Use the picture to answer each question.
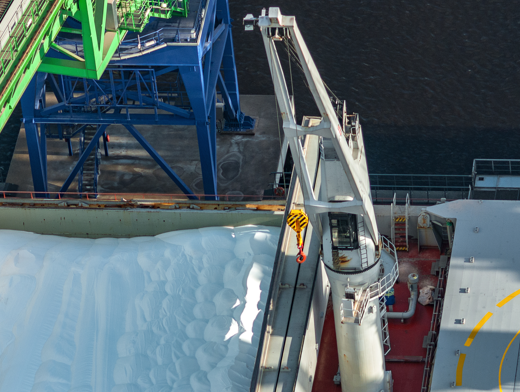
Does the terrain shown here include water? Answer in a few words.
Yes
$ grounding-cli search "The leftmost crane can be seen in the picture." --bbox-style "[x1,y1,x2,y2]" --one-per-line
[244,11,405,392]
